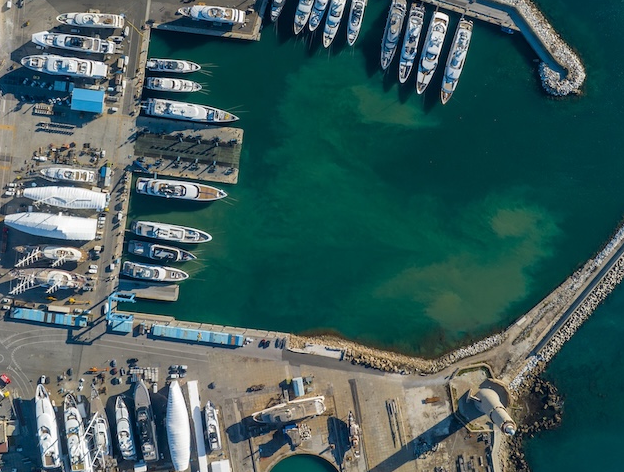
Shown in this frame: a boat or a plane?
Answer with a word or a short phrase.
boat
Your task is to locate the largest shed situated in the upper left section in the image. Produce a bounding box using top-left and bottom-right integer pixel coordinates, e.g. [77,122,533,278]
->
[70,87,109,113]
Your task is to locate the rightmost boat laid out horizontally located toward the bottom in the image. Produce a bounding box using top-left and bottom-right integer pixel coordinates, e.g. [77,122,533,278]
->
[252,394,329,421]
